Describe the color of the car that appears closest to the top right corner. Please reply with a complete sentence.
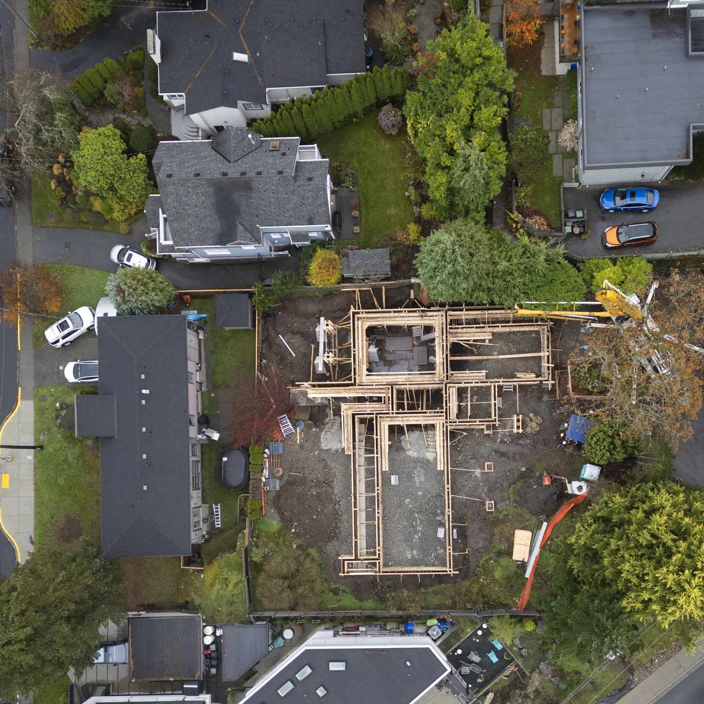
The color of the car that appears closest to the top right corner is blue.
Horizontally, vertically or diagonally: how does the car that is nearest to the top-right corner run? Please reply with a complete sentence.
I'd say the car that is nearest to the top-right corner is aligned horizontally in the picture.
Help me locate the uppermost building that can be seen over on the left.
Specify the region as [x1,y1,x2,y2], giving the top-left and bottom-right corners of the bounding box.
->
[147,0,365,143]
